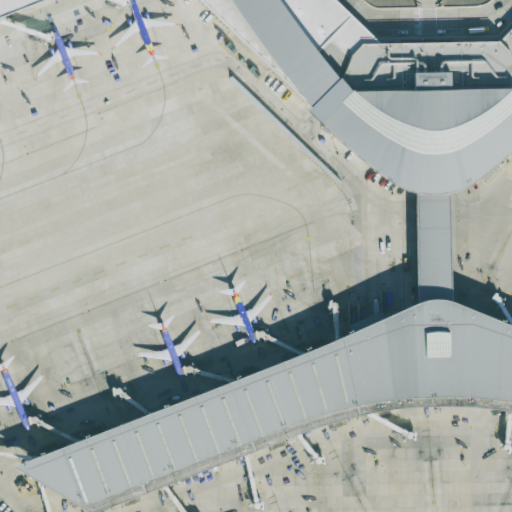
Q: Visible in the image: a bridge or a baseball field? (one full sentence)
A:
Of the two, only a bridge appears.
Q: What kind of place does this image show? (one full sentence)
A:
This looks like an airport.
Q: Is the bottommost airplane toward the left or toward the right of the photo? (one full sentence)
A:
The bottommost airplane sits on the left side.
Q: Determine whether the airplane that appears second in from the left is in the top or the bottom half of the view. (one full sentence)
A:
Seen from above, the airplane that appears second in from the left lies in the top half of the view.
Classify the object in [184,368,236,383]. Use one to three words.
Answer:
jet bridge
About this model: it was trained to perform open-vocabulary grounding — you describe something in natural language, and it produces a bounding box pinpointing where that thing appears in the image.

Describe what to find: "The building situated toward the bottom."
[16,300,512,511]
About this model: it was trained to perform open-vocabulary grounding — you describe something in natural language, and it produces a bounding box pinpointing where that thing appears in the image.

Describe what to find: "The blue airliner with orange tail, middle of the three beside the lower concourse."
[137,316,199,378]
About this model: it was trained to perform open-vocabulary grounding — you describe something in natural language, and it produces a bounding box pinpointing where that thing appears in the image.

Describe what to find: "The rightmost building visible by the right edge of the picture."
[311,78,512,194]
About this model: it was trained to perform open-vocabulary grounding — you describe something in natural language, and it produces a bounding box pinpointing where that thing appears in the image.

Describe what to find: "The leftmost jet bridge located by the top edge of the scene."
[0,18,54,41]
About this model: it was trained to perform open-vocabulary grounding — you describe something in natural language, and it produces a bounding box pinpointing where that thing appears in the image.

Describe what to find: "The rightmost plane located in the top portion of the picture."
[115,0,177,66]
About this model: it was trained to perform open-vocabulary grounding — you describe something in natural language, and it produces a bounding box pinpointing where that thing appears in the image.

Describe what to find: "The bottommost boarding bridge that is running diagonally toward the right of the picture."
[298,435,326,466]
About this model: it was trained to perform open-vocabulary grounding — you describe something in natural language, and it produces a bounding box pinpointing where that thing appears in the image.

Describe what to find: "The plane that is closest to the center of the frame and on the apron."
[209,282,270,344]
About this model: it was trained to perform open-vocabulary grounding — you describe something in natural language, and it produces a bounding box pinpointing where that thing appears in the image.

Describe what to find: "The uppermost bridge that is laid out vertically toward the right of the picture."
[418,192,452,304]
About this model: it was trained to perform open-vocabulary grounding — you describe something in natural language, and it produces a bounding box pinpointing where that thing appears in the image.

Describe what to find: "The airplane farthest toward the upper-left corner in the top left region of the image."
[37,28,100,90]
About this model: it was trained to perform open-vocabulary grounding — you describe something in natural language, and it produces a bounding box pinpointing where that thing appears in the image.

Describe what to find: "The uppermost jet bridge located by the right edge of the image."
[491,292,512,324]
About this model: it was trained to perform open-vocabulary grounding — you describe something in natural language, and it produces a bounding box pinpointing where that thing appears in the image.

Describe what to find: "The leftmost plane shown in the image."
[0,368,44,430]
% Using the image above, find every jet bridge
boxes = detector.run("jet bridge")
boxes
[109,0,132,8]
[369,414,419,440]
[28,419,76,445]
[254,332,306,354]
[110,385,153,414]
[246,455,262,512]
[162,486,187,512]
[184,368,236,383]
[502,412,512,456]
[298,435,326,466]
[0,18,54,41]
[0,450,40,460]
[491,292,512,324]
[328,304,340,340]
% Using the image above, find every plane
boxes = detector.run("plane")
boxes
[0,368,44,430]
[209,282,270,344]
[37,28,100,90]
[115,0,177,66]
[137,316,199,378]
